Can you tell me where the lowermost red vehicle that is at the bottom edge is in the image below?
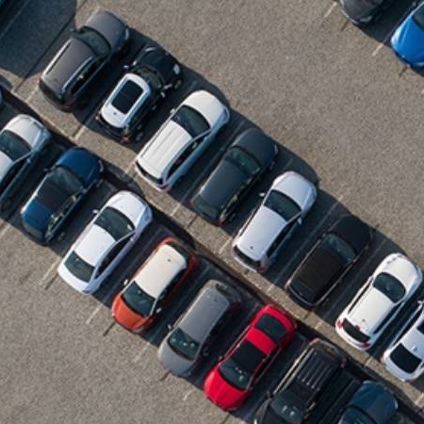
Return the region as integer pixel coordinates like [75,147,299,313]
[206,306,296,410]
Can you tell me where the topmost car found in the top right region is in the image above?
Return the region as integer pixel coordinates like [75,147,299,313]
[344,0,405,37]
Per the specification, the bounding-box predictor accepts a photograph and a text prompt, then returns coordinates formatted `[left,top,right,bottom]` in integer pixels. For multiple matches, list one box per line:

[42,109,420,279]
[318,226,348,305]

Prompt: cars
[331,382,397,424]
[0,115,52,208]
[228,174,317,273]
[97,48,179,140]
[57,191,152,296]
[159,278,244,373]
[114,237,199,331]
[344,0,405,37]
[395,8,424,79]
[206,306,296,410]
[383,298,424,379]
[15,147,106,245]
[284,212,373,312]
[35,8,132,114]
[190,128,279,227]
[333,253,422,352]
[253,337,349,424]
[134,90,228,193]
